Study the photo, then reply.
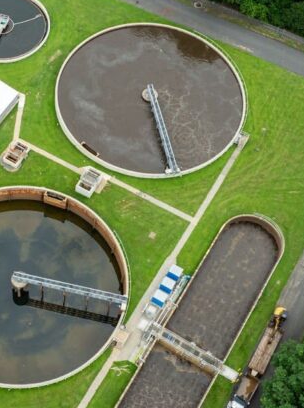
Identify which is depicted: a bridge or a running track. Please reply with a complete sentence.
Of the two, only a bridge appears.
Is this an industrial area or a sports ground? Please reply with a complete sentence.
This looks like an industrial area.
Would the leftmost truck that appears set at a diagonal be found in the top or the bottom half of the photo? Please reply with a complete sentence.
The bottom half of the photo is where the leftmost truck that appears set at a diagonal is.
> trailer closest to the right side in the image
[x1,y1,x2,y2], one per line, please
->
[250,308,293,371]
